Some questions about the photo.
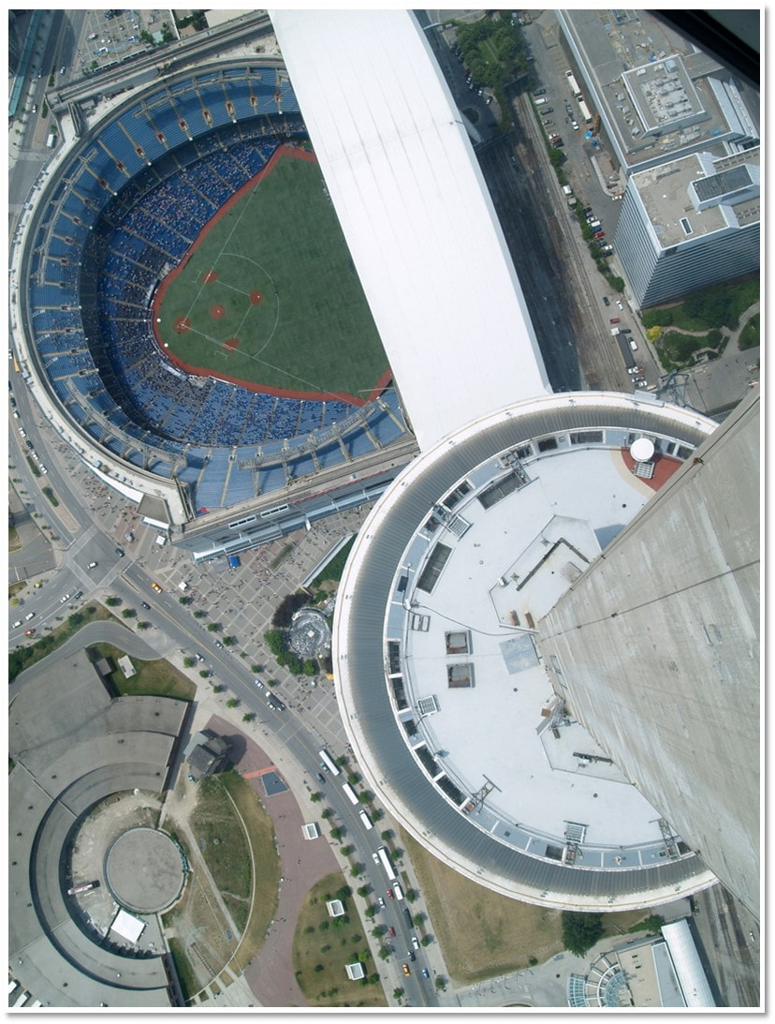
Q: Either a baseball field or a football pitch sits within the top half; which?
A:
baseball field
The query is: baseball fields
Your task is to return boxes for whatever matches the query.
[154,146,395,405]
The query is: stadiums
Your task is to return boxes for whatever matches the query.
[5,0,554,559]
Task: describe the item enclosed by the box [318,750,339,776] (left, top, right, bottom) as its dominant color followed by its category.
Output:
white bus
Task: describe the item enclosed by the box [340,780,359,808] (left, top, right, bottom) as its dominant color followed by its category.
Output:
white vehicle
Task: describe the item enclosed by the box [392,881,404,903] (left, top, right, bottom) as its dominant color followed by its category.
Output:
white vehicle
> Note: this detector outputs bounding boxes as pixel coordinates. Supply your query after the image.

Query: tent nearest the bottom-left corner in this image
[111,908,148,942]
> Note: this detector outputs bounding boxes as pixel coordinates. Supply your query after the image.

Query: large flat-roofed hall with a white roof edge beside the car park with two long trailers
[549,0,756,191]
